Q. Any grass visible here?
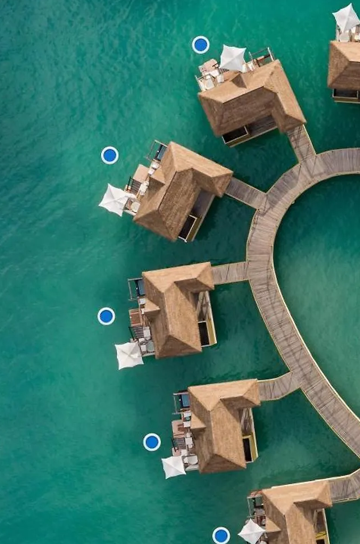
No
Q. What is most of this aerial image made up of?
water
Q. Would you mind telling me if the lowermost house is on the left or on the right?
right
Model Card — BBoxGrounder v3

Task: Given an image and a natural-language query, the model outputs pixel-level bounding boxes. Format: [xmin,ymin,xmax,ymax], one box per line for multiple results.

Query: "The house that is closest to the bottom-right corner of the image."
[243,476,333,544]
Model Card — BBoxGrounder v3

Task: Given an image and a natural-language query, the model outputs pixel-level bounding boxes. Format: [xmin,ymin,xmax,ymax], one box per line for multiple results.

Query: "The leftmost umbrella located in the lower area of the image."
[115,341,151,369]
